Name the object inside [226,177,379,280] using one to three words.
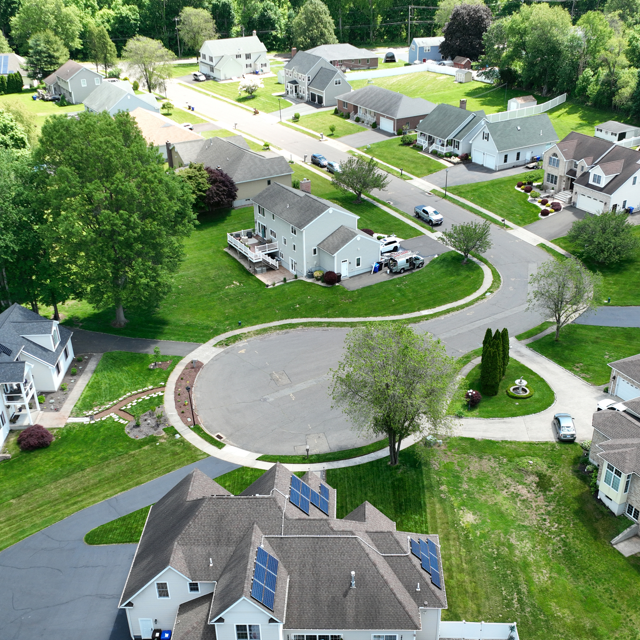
house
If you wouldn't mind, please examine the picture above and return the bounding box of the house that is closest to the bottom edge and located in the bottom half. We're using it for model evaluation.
[118,462,448,640]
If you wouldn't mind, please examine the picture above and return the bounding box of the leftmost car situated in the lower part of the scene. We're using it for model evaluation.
[552,411,578,441]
